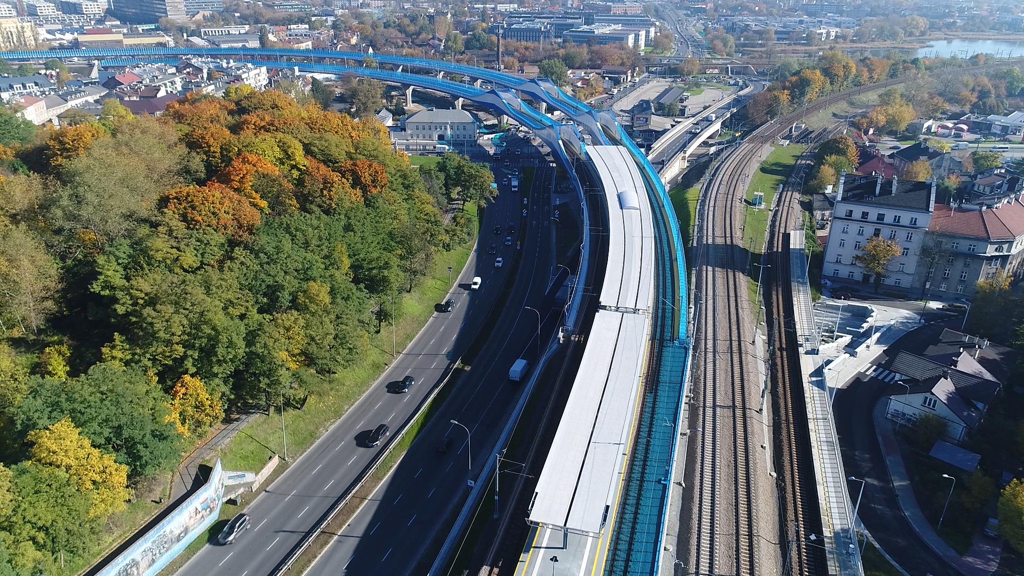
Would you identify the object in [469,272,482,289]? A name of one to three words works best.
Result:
vehicle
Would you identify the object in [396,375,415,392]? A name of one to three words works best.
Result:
car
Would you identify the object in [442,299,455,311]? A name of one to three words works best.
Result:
vehicle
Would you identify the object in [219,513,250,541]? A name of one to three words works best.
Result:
car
